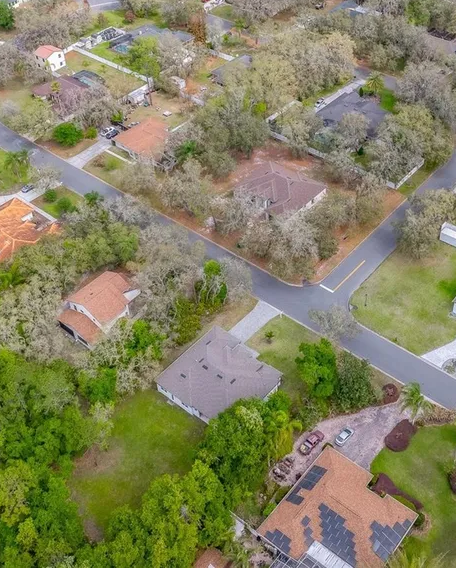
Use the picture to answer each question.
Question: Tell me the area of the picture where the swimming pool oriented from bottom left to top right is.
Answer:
top left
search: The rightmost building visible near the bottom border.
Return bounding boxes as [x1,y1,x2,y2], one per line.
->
[254,443,419,568]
